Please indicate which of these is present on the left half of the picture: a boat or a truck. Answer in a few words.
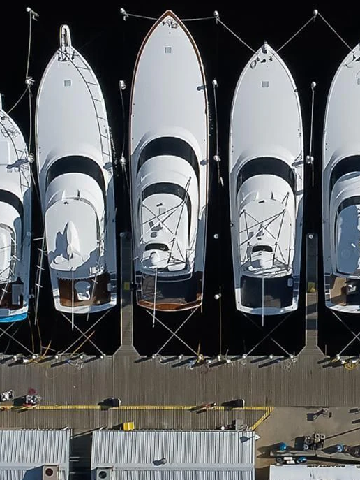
boat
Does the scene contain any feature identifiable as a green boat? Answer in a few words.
No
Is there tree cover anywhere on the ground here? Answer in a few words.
No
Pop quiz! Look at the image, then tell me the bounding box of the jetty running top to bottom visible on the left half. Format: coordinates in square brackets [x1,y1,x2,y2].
[110,232,145,355]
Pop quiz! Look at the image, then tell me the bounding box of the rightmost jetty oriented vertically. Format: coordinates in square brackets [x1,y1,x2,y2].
[296,232,328,355]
